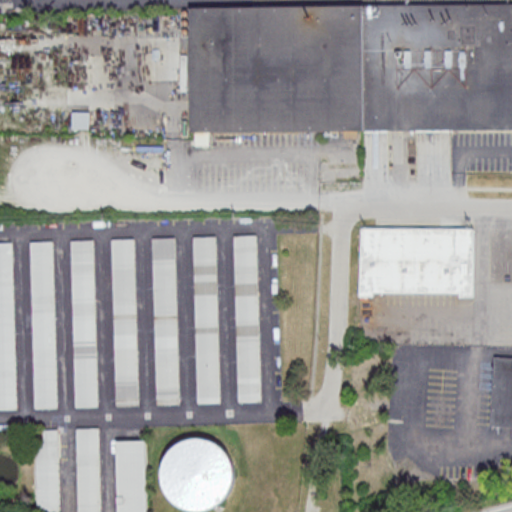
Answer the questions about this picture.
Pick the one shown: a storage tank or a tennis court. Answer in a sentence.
There is a storage tank in the scene.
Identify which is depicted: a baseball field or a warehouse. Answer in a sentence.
The image shows a warehouse.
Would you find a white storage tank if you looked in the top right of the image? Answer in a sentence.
No, no white storage tank can be made out in the top right of the image.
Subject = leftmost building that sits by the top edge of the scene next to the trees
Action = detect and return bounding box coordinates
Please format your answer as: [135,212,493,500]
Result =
[188,7,363,132]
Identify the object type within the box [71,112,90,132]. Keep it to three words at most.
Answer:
shed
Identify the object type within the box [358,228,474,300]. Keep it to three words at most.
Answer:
building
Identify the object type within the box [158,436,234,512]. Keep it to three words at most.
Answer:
storage tank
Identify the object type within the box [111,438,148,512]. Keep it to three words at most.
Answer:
building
